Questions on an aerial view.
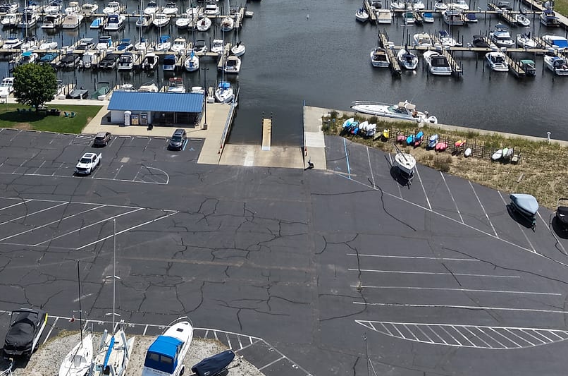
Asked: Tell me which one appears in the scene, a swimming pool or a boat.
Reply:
boat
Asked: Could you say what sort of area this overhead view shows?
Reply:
parking lot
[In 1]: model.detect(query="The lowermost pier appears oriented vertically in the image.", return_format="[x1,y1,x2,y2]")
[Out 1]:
[260,110,272,150]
